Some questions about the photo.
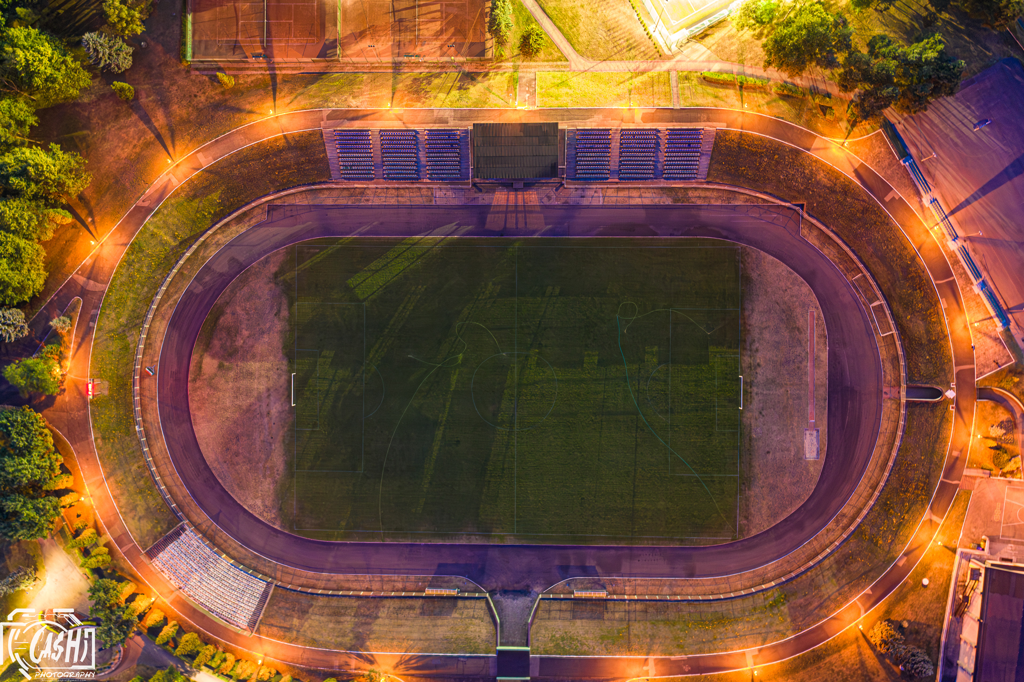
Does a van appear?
No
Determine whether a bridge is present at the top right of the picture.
No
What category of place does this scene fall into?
sports ground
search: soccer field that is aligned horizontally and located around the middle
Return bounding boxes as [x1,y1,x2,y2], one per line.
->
[188,237,827,547]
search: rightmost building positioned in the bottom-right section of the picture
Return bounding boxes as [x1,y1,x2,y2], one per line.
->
[938,536,1024,682]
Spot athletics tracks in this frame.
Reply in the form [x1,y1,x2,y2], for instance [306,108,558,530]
[157,204,884,592]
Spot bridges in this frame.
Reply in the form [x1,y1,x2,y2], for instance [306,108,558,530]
[497,644,530,680]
